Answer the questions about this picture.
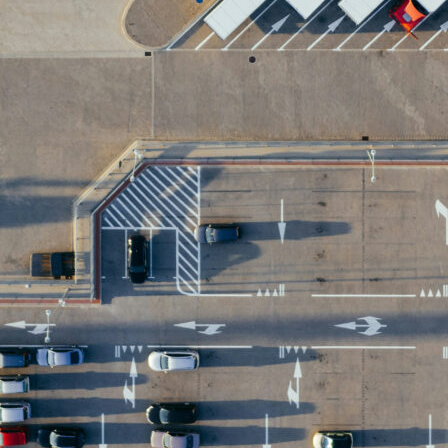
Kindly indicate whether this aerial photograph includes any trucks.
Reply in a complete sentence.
Yes, looking at the shot, I can spot a truck.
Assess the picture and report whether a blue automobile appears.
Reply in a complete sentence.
Yes, there is a blue automobile in the image.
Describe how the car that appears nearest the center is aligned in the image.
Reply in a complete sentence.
The car that appears nearest the center is laid out from left to right.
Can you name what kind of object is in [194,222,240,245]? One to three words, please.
car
